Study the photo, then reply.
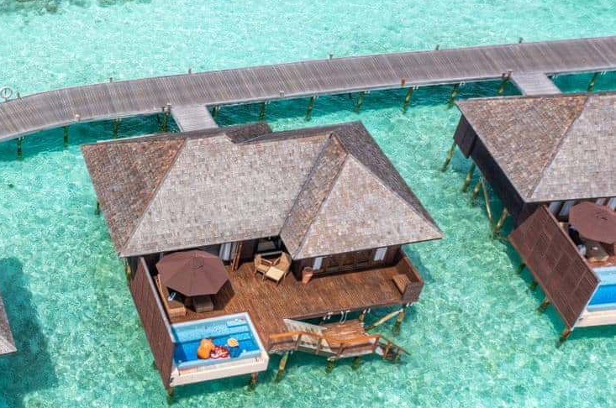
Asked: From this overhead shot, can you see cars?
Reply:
No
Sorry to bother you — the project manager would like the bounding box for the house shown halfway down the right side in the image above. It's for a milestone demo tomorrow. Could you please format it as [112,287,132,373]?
[449,90,616,344]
